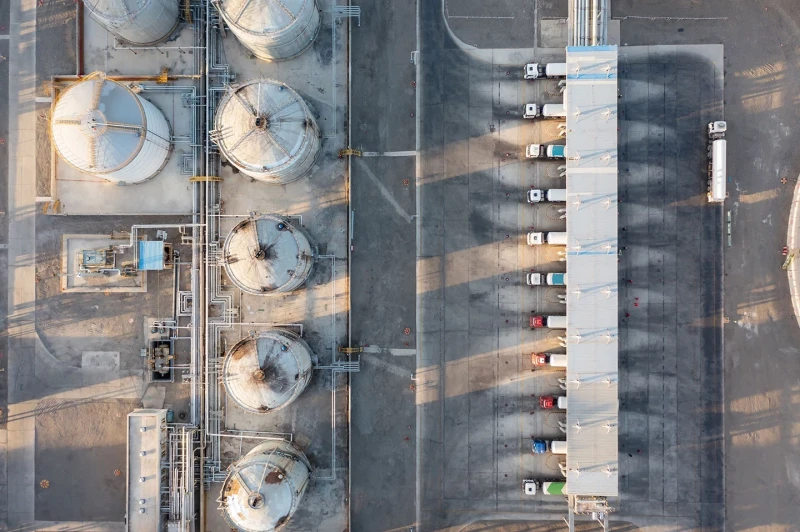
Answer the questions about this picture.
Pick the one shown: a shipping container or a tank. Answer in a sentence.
It is a tank that can be seen here.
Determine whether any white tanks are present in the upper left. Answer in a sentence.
Yes, I can see a white tank in the upper left.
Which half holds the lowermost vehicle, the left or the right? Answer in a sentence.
The lowermost vehicle sits on the right side.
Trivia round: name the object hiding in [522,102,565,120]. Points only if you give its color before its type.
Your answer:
white vehicle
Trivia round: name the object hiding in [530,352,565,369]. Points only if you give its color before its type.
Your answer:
white vehicle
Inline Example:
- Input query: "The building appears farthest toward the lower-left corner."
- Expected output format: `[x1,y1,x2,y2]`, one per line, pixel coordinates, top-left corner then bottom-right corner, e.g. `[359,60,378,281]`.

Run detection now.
[128,408,174,532]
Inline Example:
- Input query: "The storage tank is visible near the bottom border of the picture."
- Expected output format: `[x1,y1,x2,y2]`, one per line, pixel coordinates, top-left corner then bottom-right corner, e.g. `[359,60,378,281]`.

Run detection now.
[217,437,309,532]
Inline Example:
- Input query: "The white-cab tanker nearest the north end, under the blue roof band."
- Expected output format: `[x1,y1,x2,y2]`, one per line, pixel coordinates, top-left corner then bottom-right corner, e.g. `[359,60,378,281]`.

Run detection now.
[522,62,565,81]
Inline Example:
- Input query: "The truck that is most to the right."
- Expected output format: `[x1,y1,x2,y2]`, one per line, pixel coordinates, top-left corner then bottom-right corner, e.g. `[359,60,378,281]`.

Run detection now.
[703,122,724,201]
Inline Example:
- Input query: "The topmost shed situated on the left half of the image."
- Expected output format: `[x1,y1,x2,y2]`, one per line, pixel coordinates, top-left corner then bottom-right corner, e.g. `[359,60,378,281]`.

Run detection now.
[140,241,177,270]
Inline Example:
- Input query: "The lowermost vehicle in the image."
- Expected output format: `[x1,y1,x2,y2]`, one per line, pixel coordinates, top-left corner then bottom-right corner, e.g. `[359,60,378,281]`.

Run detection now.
[521,477,565,497]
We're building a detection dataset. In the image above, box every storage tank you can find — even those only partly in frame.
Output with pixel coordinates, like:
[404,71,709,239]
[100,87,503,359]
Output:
[79,0,184,47]
[220,0,321,58]
[48,73,174,184]
[210,77,320,184]
[218,214,314,295]
[219,327,312,414]
[217,437,309,532]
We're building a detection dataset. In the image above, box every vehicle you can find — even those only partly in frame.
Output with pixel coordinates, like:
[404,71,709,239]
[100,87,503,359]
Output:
[522,62,565,81]
[538,394,565,411]
[524,271,565,287]
[524,230,565,247]
[525,187,565,204]
[522,102,565,120]
[523,142,565,159]
[527,313,565,330]
[703,122,724,201]
[521,477,565,497]
[530,437,565,455]
[530,352,565,369]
